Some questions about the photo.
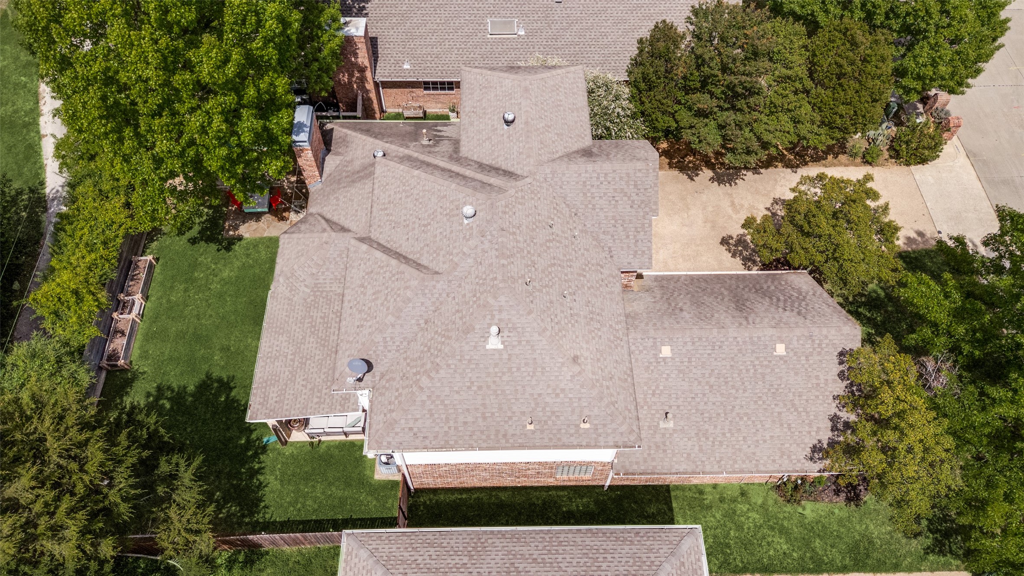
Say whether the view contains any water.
No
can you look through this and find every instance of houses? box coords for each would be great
[332,520,713,576]
[242,66,859,501]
